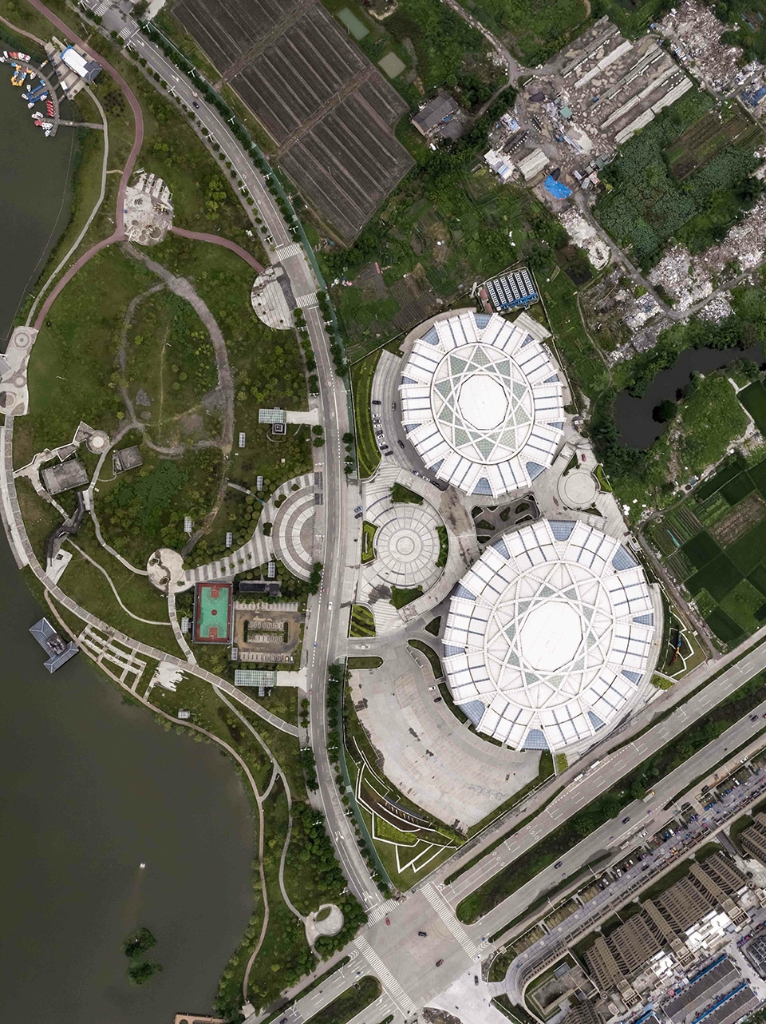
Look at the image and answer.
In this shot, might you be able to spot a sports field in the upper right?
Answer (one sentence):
No, in the upper right there is no sports field.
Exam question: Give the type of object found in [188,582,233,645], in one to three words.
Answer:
basketball court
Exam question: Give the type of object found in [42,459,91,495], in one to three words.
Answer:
building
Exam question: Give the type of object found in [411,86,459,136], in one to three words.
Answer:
house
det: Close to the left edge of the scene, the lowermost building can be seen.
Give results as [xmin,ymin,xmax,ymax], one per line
[24,616,78,675]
